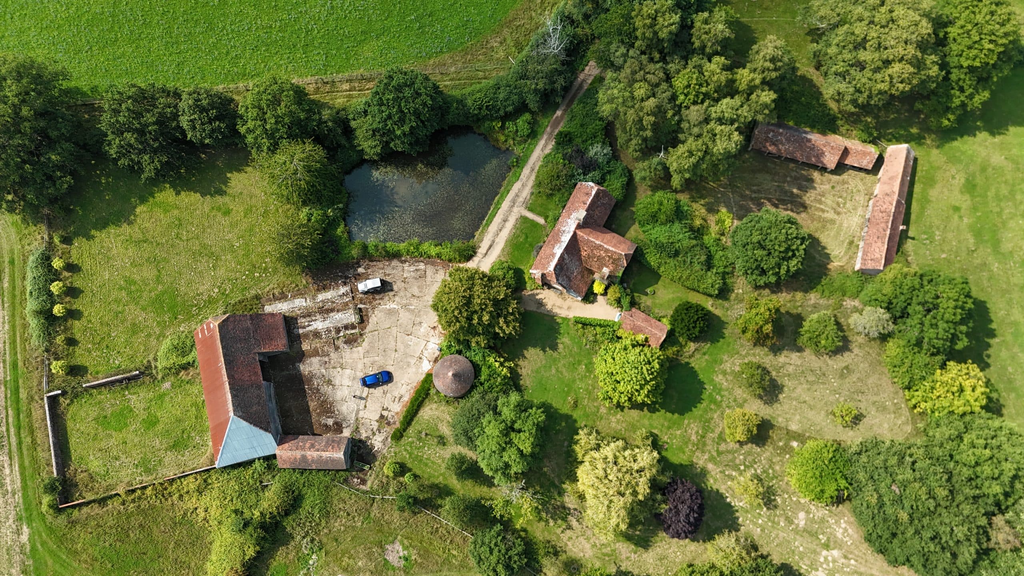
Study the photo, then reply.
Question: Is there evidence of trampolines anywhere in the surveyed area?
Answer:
No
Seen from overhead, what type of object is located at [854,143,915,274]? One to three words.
building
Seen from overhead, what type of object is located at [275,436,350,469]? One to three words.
shed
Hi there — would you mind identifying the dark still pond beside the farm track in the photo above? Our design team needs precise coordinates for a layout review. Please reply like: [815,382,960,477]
[344,128,512,245]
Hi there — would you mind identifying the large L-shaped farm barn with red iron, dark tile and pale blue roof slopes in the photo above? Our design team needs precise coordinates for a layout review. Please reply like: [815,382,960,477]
[194,313,292,468]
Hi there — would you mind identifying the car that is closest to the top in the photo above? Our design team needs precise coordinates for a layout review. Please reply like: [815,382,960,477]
[357,276,385,294]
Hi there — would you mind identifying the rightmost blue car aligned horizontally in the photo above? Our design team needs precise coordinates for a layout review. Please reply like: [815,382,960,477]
[358,370,393,389]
